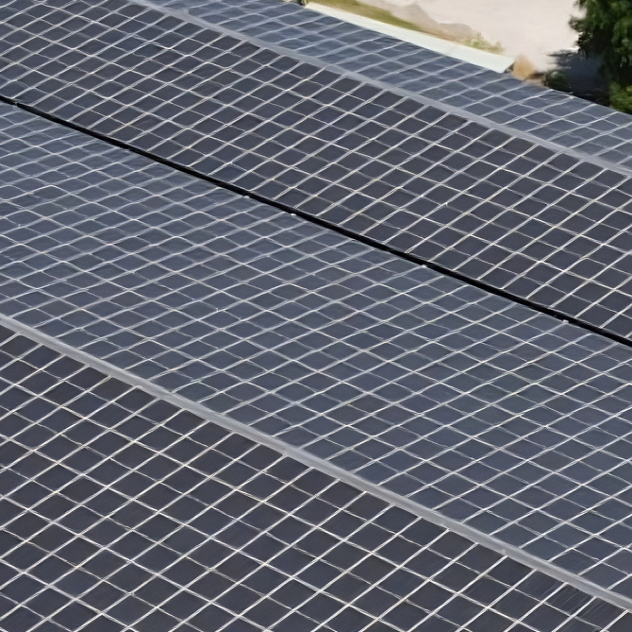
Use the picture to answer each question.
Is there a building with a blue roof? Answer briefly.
No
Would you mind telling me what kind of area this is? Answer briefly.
solar farm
